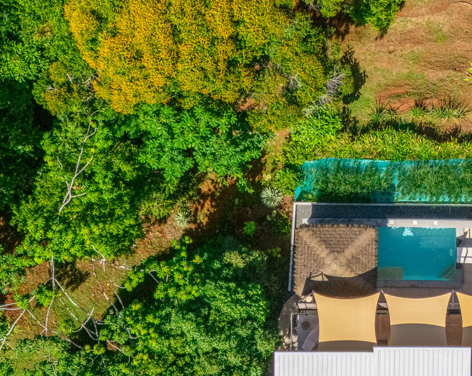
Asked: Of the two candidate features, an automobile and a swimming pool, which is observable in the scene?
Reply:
swimming pool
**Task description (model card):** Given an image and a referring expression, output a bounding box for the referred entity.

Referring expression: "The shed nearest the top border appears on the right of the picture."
[290,223,380,301]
